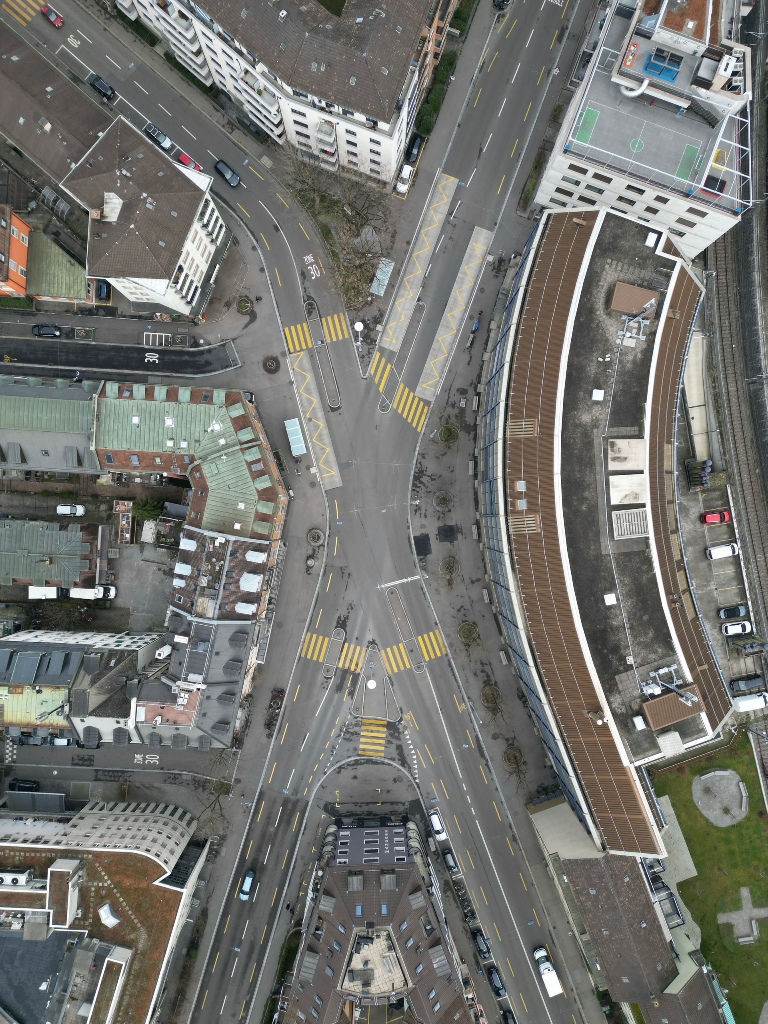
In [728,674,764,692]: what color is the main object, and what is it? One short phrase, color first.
gray car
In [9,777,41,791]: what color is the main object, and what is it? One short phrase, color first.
black car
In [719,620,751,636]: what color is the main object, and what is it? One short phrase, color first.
white car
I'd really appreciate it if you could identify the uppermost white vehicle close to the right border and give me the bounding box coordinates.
[703,541,739,559]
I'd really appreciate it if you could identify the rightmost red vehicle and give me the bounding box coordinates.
[699,509,731,525]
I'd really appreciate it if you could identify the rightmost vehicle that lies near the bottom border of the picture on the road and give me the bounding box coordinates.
[533,944,565,1001]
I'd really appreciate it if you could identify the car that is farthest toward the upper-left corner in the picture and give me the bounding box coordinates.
[39,4,67,33]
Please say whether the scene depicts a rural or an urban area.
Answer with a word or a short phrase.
urban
